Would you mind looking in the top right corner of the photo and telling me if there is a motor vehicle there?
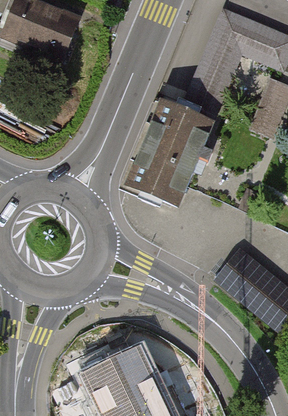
No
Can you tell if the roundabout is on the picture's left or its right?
left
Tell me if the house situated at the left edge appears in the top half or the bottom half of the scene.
top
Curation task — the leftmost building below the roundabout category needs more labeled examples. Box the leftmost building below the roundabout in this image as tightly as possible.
[82,340,181,416]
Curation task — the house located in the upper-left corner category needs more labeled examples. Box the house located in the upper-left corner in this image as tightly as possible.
[0,0,82,65]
